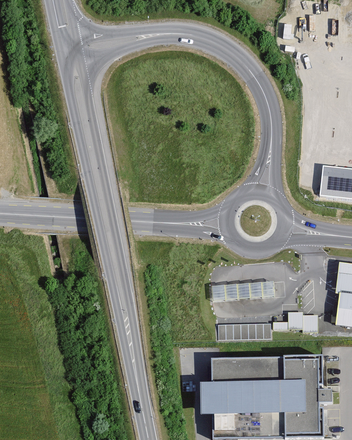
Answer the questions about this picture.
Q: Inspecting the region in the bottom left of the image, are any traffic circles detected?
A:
No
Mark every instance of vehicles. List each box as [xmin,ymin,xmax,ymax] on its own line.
[304,221,317,229]
[299,15,306,42]
[328,378,340,384]
[315,0,322,15]
[330,426,344,432]
[304,52,312,68]
[323,0,329,12]
[134,400,140,413]
[328,368,340,374]
[179,37,193,44]
[210,232,224,240]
